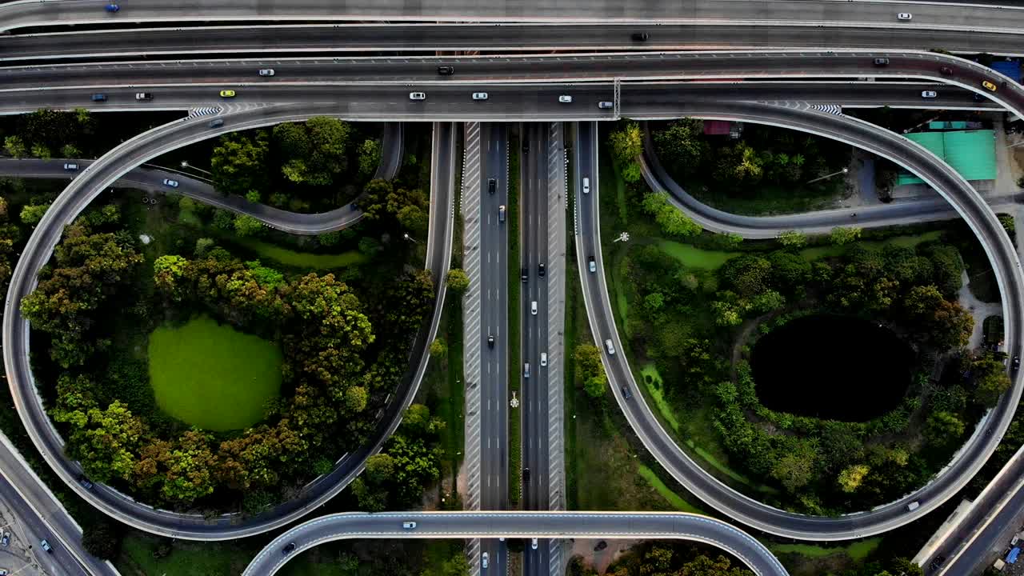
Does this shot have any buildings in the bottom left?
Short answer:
No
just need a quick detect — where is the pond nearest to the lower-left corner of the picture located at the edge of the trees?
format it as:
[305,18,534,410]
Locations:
[149,317,283,431]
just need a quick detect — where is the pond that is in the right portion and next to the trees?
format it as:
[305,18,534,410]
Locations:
[750,313,915,422]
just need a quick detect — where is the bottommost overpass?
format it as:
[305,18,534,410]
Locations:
[243,509,788,576]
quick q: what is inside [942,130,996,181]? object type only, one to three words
building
